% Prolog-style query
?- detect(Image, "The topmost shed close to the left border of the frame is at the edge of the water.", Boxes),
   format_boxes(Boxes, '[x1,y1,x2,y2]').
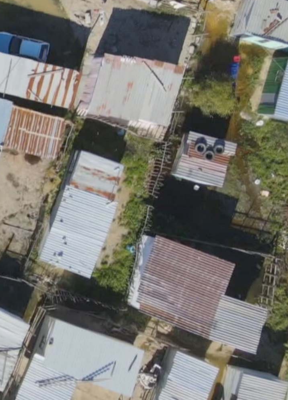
[0,52,82,109]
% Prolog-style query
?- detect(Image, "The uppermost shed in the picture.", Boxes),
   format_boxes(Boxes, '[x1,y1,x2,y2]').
[227,0,288,52]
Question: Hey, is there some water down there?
Yes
